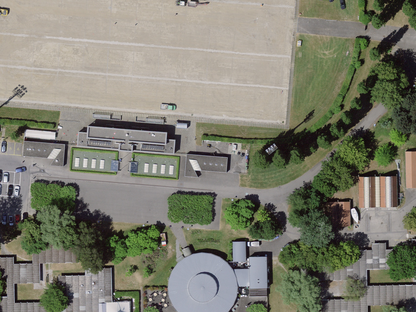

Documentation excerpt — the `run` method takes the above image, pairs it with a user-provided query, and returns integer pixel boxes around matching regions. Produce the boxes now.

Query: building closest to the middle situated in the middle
[185,154,228,177]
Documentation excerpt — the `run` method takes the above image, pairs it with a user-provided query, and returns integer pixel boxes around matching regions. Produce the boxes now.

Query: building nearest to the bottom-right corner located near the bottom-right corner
[327,242,416,312]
